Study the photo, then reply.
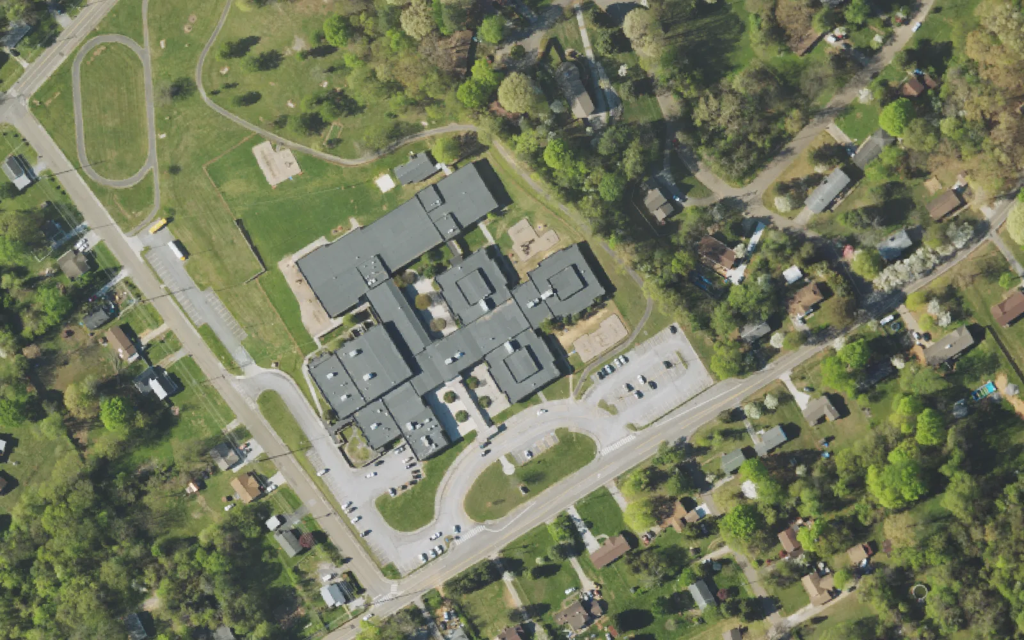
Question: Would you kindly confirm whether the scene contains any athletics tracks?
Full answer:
Yes, the picture does show an athletics track.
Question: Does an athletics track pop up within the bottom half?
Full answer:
No, within the bottom half there is no athletics track.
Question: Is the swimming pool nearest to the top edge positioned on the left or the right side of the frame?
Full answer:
You can find the swimming pool nearest to the top edge on the right side of the picture.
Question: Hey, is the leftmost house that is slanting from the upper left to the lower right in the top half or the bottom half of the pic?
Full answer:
The top half of the photo is where the leftmost house that is slanting from the upper left to the lower right is.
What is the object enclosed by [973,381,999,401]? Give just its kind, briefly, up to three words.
swimming pool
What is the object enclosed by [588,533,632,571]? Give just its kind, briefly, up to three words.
house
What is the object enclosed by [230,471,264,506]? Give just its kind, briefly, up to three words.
house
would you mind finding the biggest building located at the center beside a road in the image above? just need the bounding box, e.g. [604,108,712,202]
[296,163,605,461]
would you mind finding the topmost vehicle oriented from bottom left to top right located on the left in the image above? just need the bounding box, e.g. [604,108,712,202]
[149,219,167,234]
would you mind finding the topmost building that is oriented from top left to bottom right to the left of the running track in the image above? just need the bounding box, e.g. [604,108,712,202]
[0,153,30,190]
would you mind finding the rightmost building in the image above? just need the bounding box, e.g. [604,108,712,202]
[985,288,1024,330]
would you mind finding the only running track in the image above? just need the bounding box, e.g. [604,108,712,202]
[73,34,156,189]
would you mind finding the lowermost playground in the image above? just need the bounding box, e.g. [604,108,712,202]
[574,314,628,362]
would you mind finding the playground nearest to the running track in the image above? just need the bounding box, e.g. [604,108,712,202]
[252,141,301,187]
